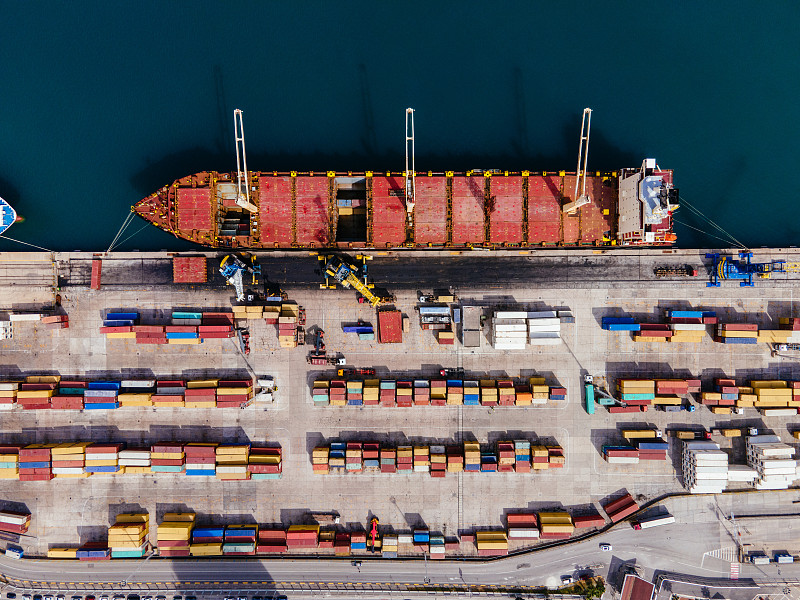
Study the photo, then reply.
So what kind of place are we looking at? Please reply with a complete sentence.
The area seen from above is a port.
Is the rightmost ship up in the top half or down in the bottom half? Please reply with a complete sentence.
The rightmost ship sits in the top half of the picture.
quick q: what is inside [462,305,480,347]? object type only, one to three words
shed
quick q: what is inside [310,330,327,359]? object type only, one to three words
work vehicle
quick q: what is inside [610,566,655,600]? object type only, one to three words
house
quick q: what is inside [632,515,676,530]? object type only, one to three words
vehicle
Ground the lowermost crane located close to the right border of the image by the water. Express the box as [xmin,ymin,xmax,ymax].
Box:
[705,253,800,287]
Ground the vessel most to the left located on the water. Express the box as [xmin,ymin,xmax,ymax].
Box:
[0,196,27,235]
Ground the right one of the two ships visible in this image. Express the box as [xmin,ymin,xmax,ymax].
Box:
[129,106,680,250]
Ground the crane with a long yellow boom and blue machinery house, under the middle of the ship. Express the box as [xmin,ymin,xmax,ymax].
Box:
[316,254,383,309]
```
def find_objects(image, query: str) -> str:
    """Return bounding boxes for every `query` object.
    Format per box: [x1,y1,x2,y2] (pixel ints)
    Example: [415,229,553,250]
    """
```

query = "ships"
[0,196,27,235]
[129,106,680,250]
